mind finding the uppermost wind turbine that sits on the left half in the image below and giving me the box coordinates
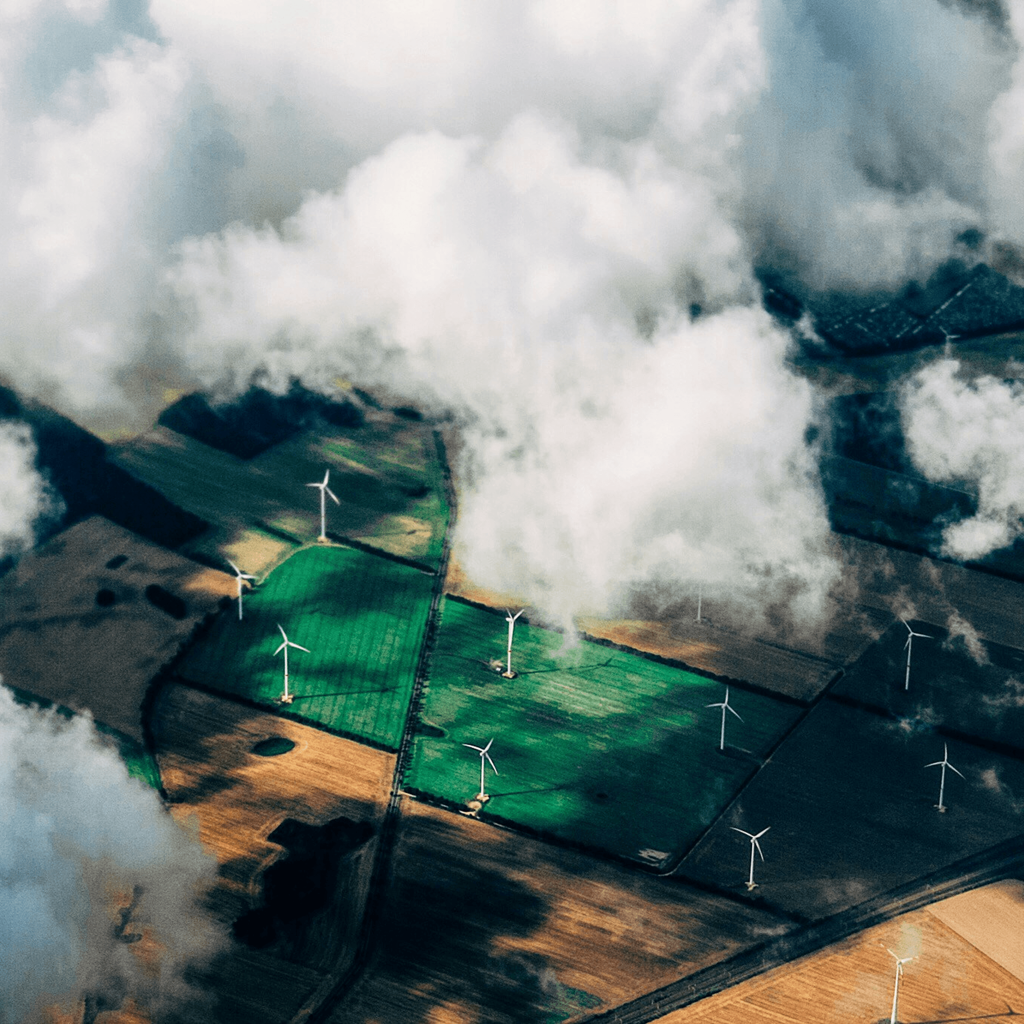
[307,466,337,542]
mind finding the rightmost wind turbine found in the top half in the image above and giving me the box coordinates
[944,314,975,379]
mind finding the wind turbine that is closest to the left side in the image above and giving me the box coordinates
[228,554,259,621]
